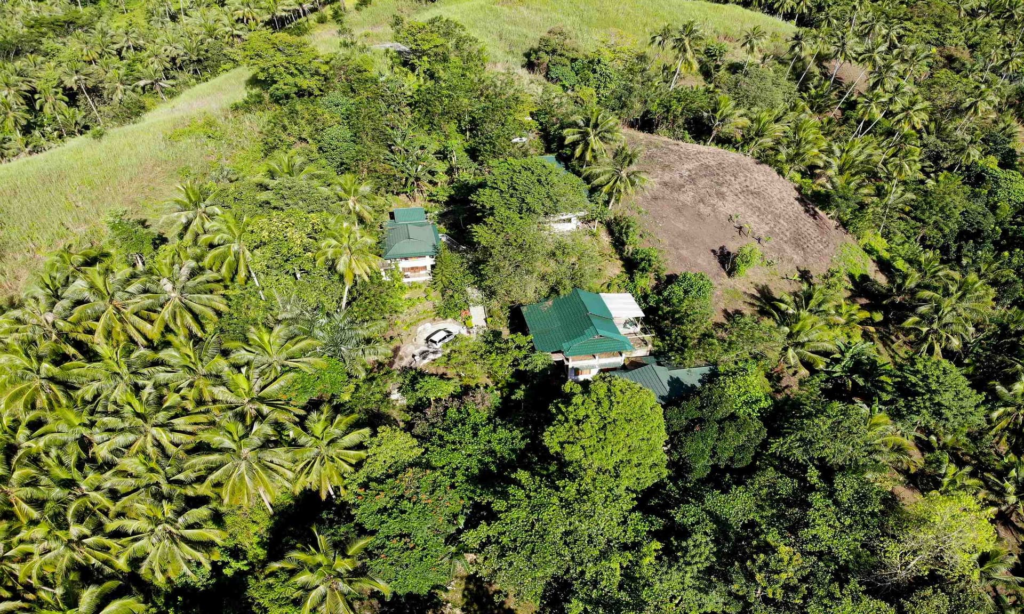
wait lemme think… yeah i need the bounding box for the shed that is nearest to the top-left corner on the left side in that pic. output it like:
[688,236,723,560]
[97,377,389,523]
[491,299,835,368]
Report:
[377,45,411,58]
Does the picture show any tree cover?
Yes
